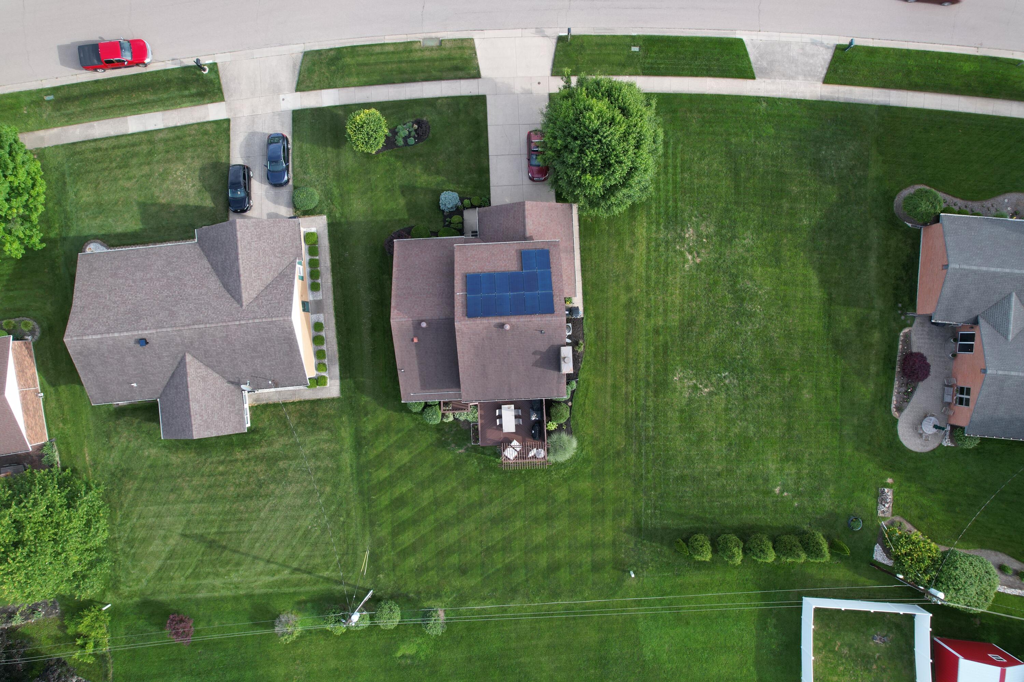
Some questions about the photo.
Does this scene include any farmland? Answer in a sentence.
No, no farmland is visible.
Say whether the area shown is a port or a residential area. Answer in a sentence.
The area seen from above is a residential area.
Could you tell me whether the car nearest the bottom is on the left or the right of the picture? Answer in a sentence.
It is on the left.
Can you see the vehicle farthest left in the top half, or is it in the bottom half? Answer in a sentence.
The top half of the photo is where the vehicle farthest left is.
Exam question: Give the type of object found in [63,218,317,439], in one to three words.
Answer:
house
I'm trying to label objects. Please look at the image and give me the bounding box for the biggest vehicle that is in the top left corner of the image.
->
[79,35,153,74]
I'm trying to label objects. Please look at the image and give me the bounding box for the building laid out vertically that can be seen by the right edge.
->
[916,211,1024,441]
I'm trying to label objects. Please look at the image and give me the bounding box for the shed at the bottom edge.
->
[931,638,1022,682]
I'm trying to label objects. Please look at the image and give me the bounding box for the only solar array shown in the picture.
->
[456,249,554,318]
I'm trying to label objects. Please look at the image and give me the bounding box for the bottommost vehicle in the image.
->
[224,163,255,214]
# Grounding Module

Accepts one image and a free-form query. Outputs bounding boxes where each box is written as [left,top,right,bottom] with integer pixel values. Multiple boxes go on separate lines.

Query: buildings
[63,218,317,439]
[931,638,1022,682]
[916,211,1024,441]
[0,334,48,458]
[390,201,578,404]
